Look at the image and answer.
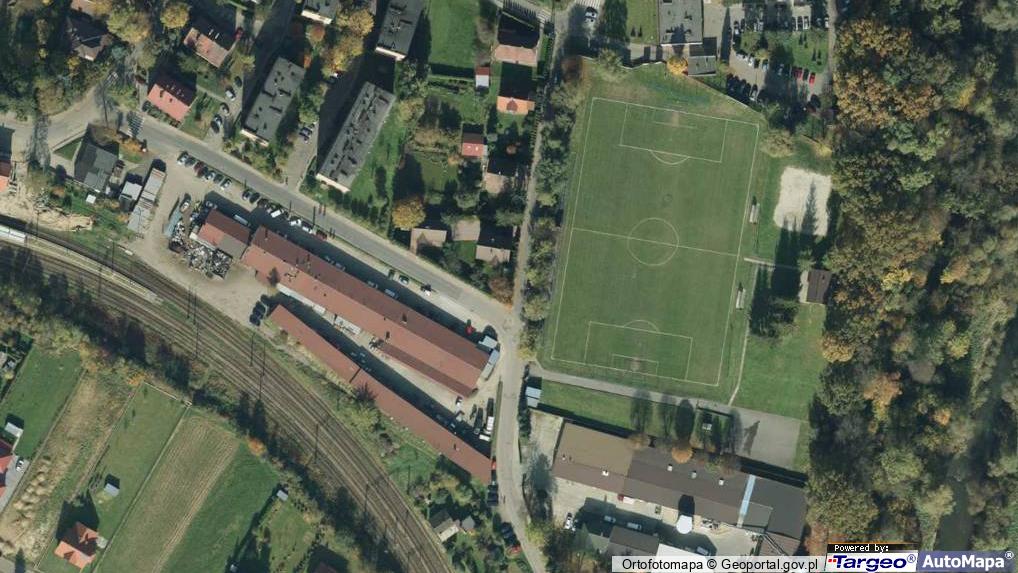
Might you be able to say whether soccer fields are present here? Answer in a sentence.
Yes, a soccer field appears in the view.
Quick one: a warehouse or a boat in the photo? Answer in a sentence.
Of the two, only a warehouse appears.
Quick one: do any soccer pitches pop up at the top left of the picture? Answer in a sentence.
No, at the top left of the picture there is no soccer pitch.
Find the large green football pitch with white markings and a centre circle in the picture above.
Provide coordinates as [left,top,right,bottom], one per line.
[544,91,766,393]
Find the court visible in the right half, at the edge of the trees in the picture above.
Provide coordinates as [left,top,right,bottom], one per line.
[772,167,832,235]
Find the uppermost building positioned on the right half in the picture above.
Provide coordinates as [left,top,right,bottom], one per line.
[655,0,704,46]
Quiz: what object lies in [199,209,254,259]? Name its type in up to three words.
building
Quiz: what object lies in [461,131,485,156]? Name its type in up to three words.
house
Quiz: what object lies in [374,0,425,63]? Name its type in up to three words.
building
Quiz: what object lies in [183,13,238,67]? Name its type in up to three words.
house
